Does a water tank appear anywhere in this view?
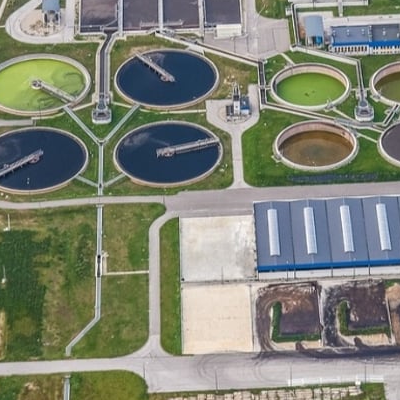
Yes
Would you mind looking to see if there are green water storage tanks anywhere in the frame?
Yes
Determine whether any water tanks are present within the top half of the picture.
Yes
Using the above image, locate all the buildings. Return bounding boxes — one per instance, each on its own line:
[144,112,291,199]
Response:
[253,190,400,283]
[215,24,243,43]
[329,23,400,55]
[42,0,62,27]
[217,88,257,121]
[304,16,323,48]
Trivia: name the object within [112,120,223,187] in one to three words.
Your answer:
water tank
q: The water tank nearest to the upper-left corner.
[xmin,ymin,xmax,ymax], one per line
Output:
[0,51,91,115]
